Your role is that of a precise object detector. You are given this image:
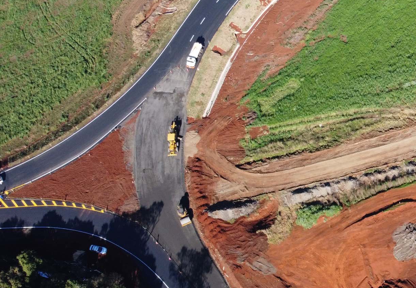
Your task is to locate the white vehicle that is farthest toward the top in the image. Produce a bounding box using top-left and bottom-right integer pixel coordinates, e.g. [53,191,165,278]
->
[184,41,204,72]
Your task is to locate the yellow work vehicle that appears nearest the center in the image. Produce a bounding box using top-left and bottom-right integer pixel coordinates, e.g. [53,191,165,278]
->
[166,122,180,157]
